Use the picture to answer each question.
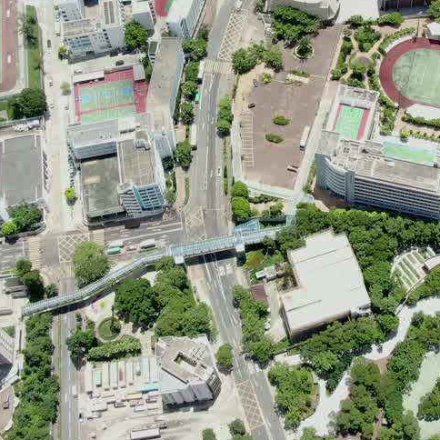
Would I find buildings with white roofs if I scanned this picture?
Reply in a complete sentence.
Yes, the picture does show a building with a white roof.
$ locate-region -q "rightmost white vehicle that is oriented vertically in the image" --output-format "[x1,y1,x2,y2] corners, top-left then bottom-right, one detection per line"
[299,122,312,149]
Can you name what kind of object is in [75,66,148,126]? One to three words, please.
sports court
